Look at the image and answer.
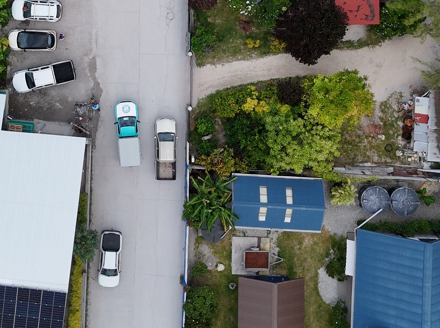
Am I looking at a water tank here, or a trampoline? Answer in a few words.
water tank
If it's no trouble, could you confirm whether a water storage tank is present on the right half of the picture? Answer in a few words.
Yes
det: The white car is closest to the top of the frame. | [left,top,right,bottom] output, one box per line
[11,0,63,24]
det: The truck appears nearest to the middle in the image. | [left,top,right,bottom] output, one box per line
[152,115,179,180]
